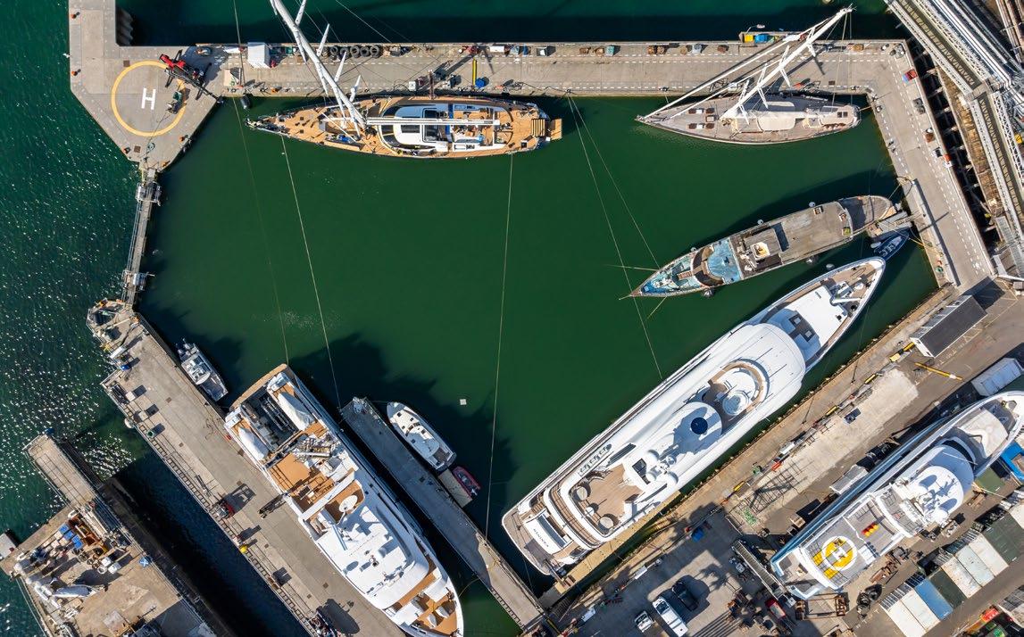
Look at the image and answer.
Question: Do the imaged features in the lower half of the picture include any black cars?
Yes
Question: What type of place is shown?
port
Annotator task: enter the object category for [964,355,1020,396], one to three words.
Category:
shipping container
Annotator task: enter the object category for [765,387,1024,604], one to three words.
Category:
boat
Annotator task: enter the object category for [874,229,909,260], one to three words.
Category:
boat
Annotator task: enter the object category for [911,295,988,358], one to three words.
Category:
building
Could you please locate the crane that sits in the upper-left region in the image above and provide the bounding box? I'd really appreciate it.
[157,48,223,103]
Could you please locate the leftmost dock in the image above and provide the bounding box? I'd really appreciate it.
[0,432,233,637]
